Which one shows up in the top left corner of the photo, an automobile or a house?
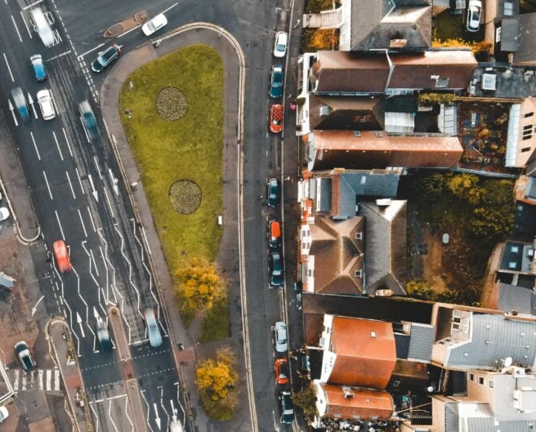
automobile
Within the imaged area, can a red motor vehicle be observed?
Yes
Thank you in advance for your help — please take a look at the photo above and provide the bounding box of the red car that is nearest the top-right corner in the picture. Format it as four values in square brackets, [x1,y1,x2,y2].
[268,104,284,132]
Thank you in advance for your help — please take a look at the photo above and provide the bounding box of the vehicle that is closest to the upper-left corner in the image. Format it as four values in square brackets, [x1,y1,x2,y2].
[30,8,57,49]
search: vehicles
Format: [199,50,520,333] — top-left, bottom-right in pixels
[168,419,183,432]
[274,357,289,384]
[272,321,289,352]
[268,251,285,286]
[266,176,280,208]
[0,207,11,222]
[15,342,38,372]
[37,88,57,122]
[94,317,114,353]
[272,31,287,58]
[29,54,48,83]
[0,404,11,423]
[142,308,162,348]
[268,104,284,132]
[0,273,18,291]
[90,42,122,74]
[51,238,71,271]
[30,8,57,49]
[267,65,284,98]
[267,220,283,248]
[463,0,479,32]
[11,87,30,123]
[140,10,170,38]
